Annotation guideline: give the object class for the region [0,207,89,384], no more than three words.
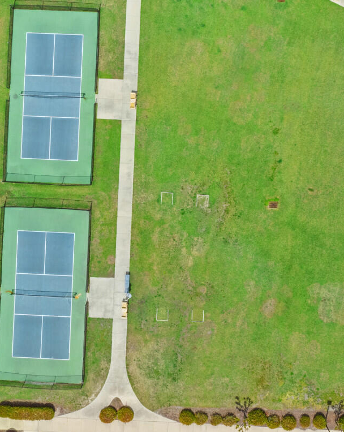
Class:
sports court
